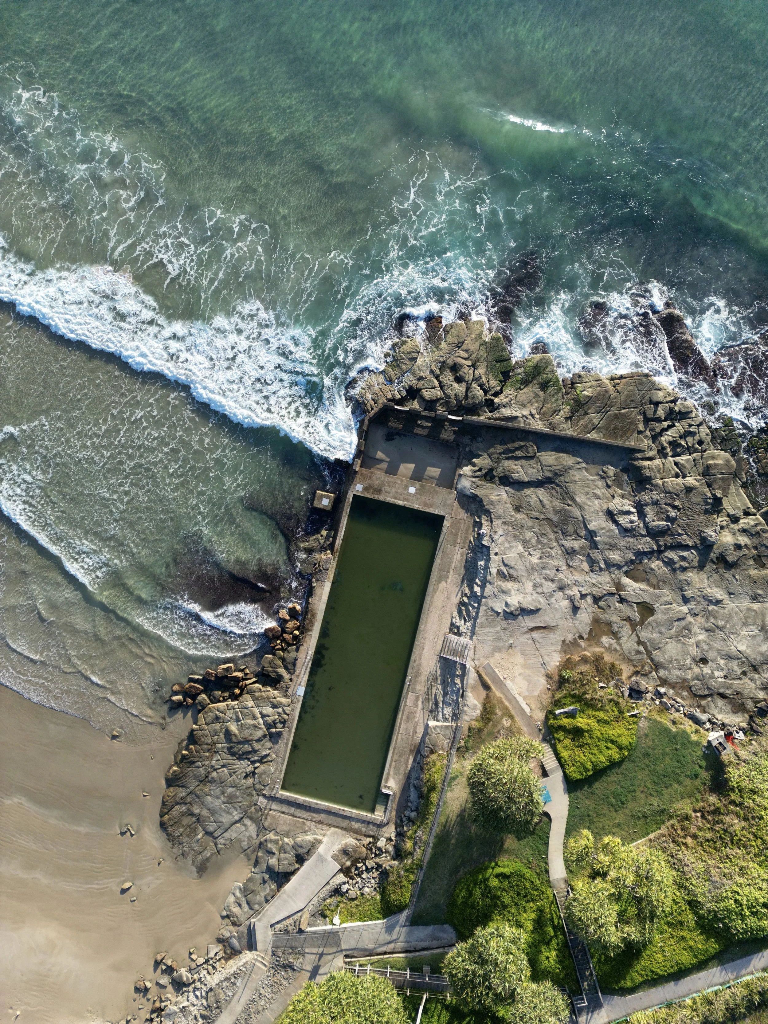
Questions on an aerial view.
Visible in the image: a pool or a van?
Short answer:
pool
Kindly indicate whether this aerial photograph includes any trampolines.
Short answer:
No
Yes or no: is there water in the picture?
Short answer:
Yes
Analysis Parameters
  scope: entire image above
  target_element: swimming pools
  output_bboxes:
[258,468,472,844]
